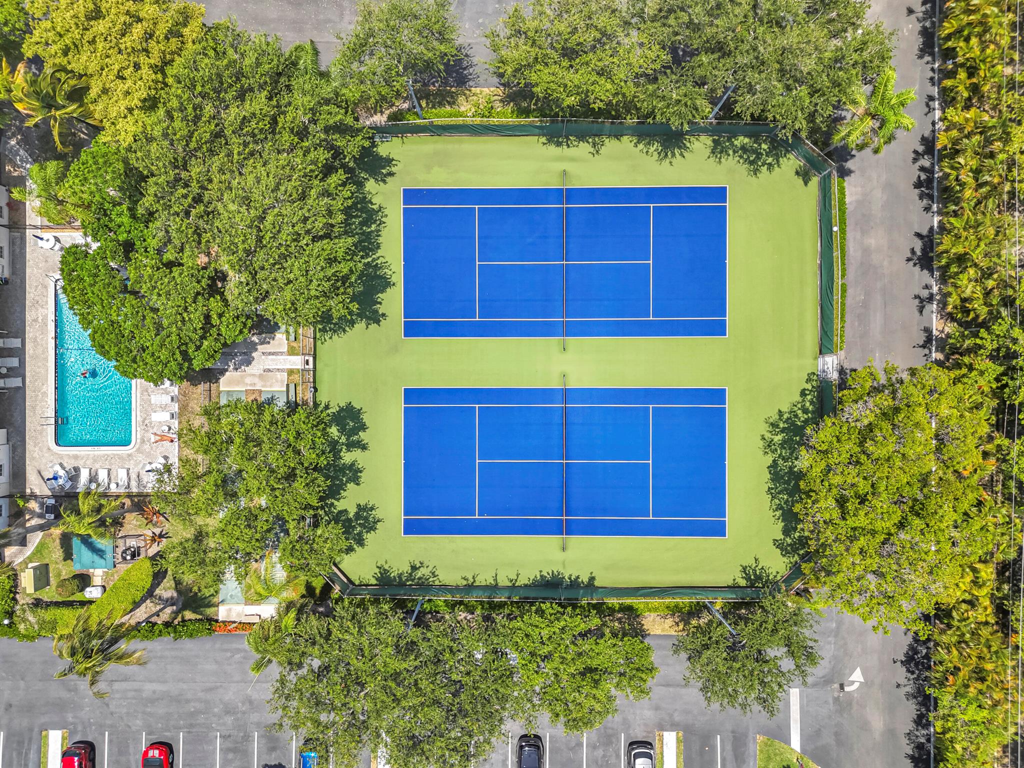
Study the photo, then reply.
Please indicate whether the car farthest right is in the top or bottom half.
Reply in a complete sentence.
The car farthest right sits in the bottom half of the picture.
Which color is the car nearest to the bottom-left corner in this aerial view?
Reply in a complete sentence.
The color of the car nearest to the bottom-left corner is red.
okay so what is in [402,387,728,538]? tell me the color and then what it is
blue tennis court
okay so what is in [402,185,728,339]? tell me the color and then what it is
blue tennis court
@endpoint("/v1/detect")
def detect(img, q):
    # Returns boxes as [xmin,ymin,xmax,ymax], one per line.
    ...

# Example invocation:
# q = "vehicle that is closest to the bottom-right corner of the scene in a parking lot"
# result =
[627,744,653,768]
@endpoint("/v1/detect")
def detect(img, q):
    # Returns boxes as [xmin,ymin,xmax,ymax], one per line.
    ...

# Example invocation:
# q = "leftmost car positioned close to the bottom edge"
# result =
[59,745,95,768]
